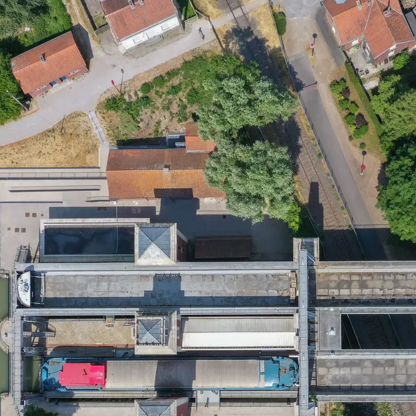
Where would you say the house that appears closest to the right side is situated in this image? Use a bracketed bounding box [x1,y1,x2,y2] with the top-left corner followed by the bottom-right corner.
[322,0,416,64]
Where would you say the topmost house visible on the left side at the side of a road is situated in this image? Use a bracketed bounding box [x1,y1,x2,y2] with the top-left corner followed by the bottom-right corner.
[100,0,181,51]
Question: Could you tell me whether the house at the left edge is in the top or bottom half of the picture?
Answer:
top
